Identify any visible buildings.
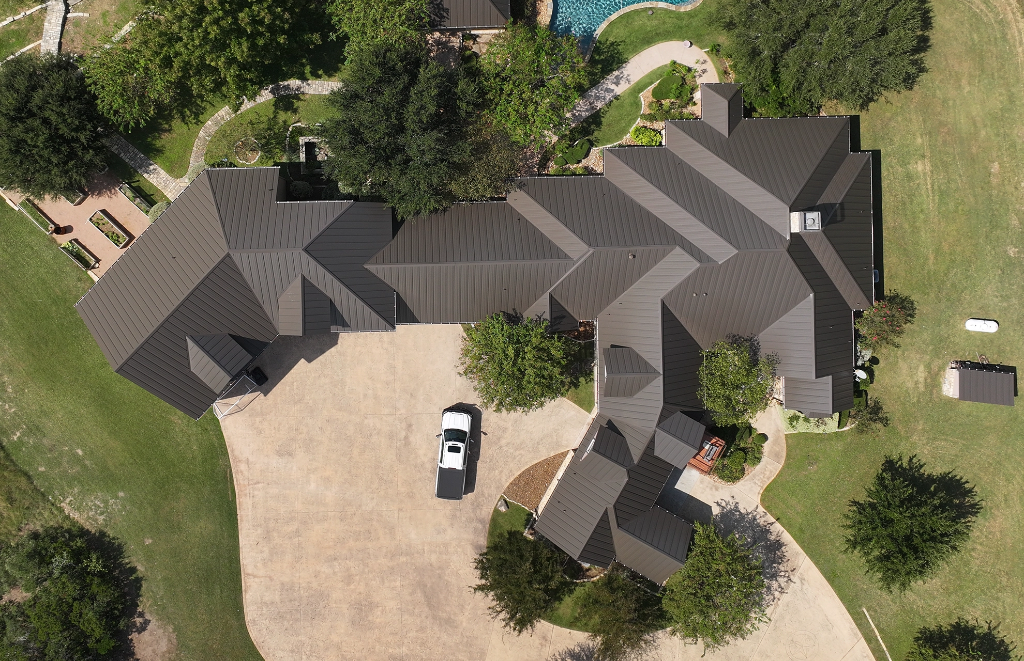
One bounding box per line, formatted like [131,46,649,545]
[73,81,875,587]
[414,0,512,37]
[943,366,1014,406]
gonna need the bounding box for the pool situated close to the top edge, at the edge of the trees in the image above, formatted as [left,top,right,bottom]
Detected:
[545,0,702,65]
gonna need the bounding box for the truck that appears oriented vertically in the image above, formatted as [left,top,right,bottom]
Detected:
[432,406,475,504]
